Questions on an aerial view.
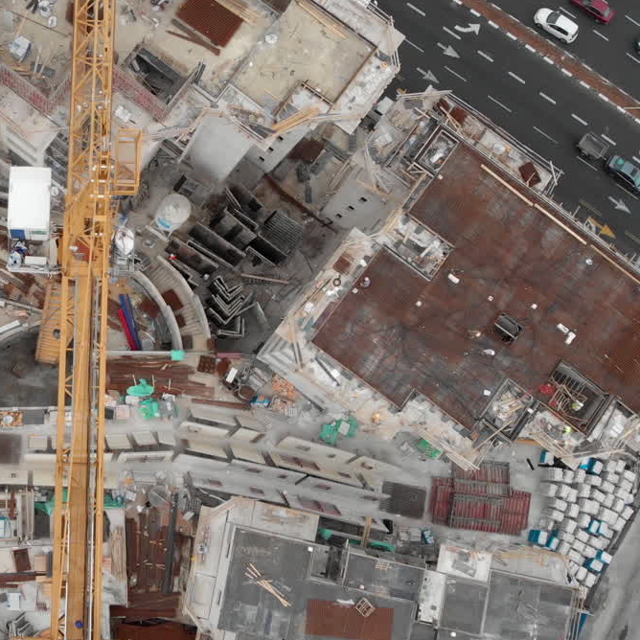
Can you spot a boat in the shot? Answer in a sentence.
No, the photo shows no boat.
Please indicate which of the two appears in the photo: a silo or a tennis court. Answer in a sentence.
Visible in the photo is a silo.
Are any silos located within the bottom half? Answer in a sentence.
No, no silo appears within the bottom half.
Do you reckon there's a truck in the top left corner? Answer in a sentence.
No, I see no truck in the top left corner.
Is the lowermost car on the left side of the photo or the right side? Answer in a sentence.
The lowermost car appears in the right half of the scene.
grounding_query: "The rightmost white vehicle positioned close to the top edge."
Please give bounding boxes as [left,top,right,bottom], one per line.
[530,8,580,43]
